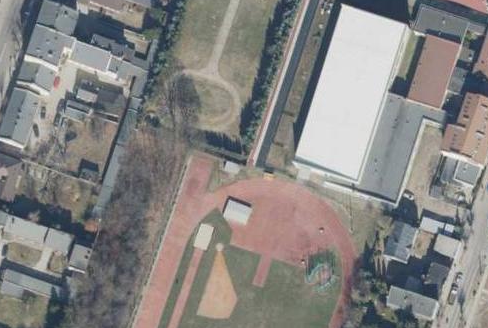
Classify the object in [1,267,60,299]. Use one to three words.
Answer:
barn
